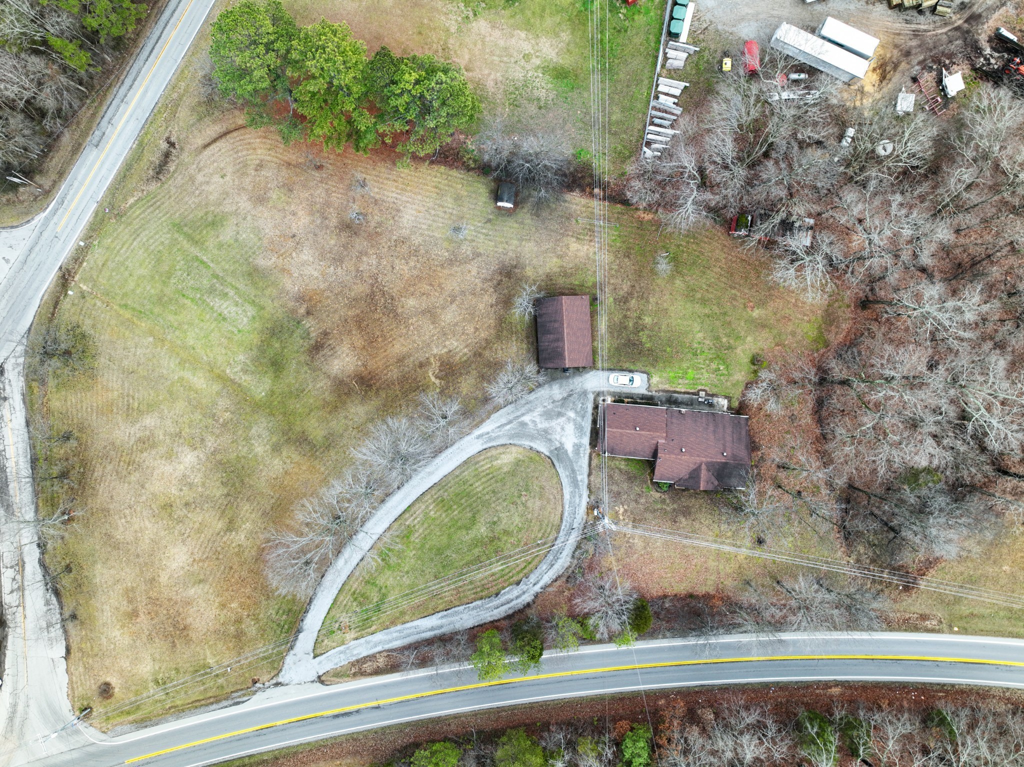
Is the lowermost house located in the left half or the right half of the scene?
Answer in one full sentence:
The lowermost house appears in the right half of the scene.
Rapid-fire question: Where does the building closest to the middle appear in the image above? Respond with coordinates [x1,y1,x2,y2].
[536,296,593,369]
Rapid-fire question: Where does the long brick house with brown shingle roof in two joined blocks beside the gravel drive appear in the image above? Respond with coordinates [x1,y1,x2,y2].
[596,403,751,491]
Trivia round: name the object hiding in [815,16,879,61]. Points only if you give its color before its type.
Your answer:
white trailer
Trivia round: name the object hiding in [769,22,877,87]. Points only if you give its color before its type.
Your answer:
white trailer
